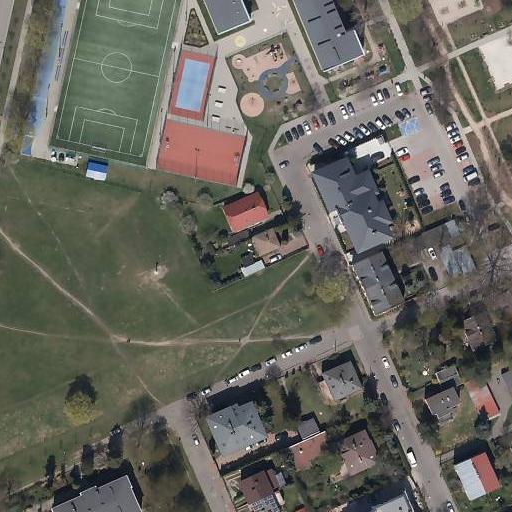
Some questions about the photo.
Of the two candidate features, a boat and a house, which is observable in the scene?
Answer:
house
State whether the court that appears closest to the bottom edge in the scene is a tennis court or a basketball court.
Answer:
basketball court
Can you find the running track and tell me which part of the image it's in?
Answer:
top left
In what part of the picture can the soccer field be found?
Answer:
top left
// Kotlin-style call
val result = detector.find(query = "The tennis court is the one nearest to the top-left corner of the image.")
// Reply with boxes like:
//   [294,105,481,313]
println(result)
[169,51,216,122]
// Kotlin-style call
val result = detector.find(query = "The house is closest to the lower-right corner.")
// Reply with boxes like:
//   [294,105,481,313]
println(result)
[454,451,500,500]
